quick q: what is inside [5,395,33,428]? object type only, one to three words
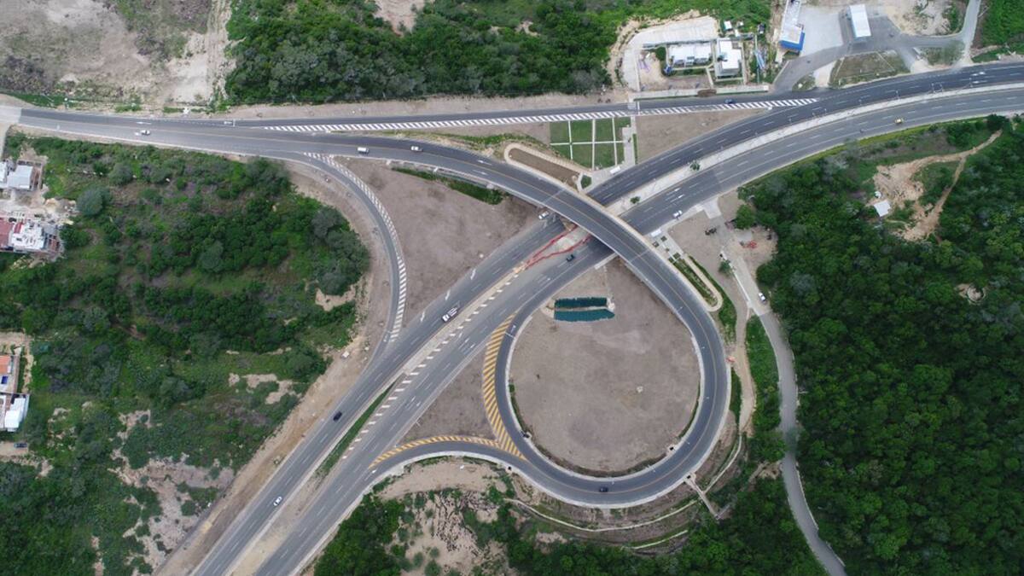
house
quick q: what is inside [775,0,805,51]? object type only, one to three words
building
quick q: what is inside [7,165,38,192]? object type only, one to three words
house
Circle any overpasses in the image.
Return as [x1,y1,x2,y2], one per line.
[546,186,650,269]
